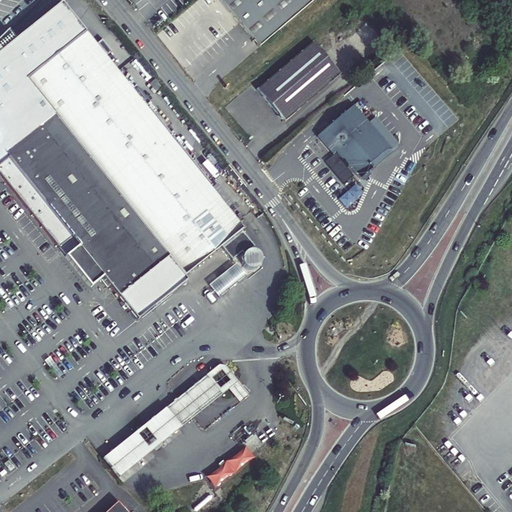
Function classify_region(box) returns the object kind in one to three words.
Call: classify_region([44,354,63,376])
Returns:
vehicle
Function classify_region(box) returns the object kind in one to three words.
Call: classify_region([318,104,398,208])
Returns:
building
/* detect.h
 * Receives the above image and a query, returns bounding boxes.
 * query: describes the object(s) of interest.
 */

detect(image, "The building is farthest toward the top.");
[222,0,316,48]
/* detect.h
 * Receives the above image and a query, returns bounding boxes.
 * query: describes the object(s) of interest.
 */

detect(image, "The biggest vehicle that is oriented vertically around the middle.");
[300,262,316,303]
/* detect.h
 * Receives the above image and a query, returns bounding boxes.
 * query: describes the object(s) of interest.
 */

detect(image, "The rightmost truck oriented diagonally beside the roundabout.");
[452,369,486,402]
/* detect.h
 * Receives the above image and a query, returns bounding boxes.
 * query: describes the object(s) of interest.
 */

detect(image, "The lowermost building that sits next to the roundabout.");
[104,362,248,476]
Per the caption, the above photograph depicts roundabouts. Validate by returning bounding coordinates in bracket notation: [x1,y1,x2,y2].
[296,282,434,420]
